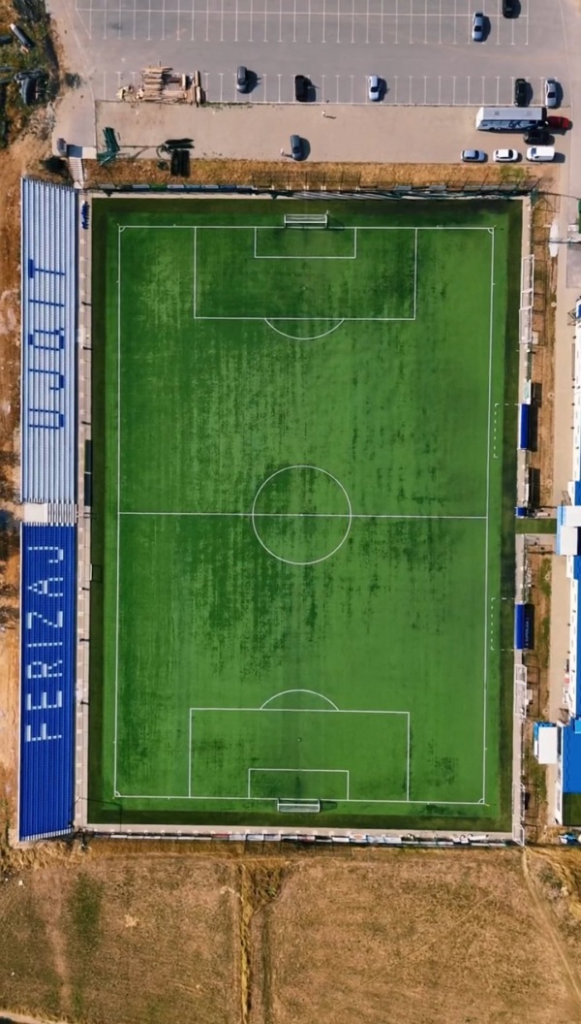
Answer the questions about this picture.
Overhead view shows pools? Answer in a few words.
No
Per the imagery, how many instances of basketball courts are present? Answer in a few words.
0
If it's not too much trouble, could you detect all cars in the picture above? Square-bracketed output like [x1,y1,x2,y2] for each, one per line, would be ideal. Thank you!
[236,65,249,93]
[521,130,548,145]
[296,74,309,102]
[461,150,484,163]
[292,135,303,160]
[516,78,529,106]
[369,76,381,101]
[472,13,484,41]
[502,0,515,19]
[545,80,558,107]
[494,149,517,163]
[545,116,572,131]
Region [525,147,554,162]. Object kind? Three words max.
vehicle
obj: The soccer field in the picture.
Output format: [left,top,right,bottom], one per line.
[87,198,523,833]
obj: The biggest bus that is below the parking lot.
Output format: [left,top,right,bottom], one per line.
[477,107,549,132]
